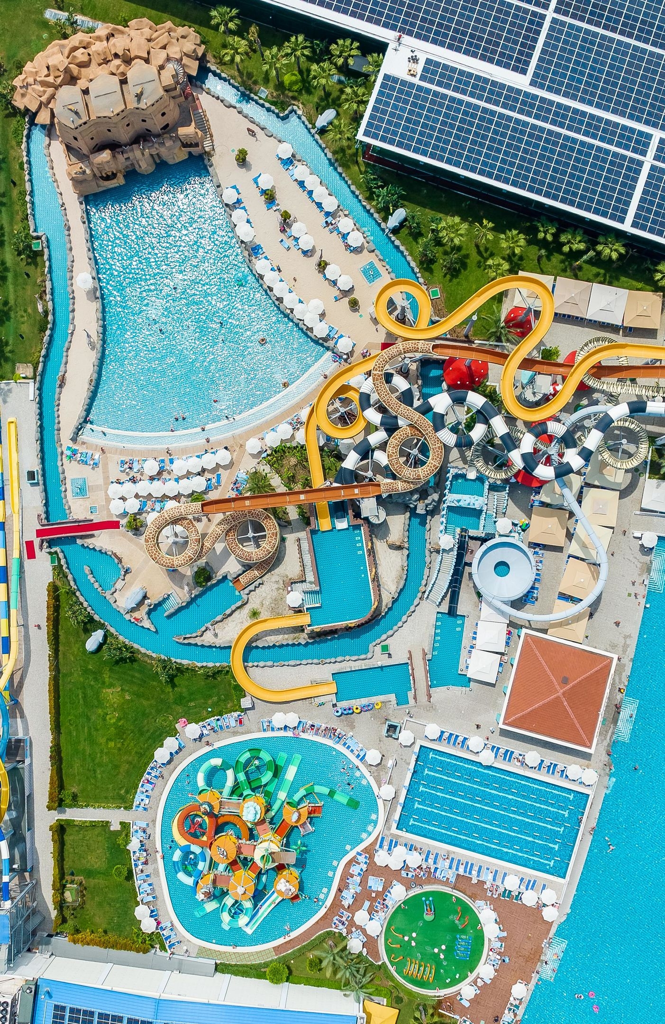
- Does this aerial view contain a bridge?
Yes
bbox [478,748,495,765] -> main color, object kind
white umbrella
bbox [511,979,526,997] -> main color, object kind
white umbrella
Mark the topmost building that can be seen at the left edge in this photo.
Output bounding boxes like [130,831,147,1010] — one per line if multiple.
[9,18,209,196]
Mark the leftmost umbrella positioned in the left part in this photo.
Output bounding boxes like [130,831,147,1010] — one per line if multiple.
[78,274,93,290]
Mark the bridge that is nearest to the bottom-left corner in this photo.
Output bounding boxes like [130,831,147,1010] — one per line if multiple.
[36,515,120,550]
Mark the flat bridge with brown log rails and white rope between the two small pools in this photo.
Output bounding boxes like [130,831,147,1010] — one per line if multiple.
[407,649,433,703]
